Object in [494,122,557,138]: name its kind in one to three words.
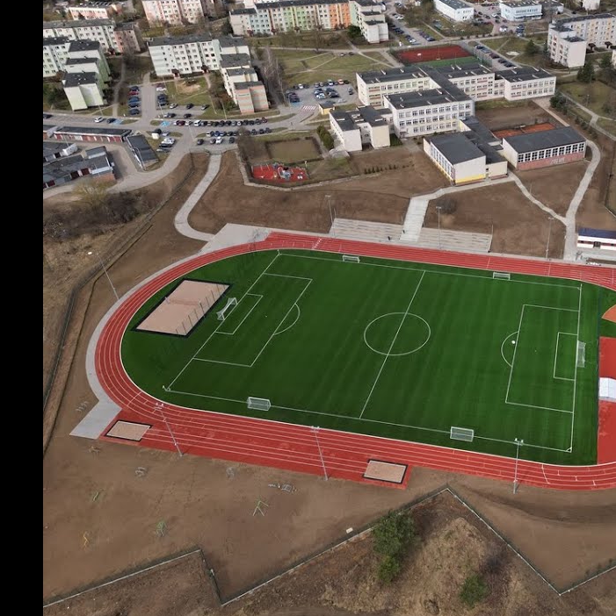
tennis court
